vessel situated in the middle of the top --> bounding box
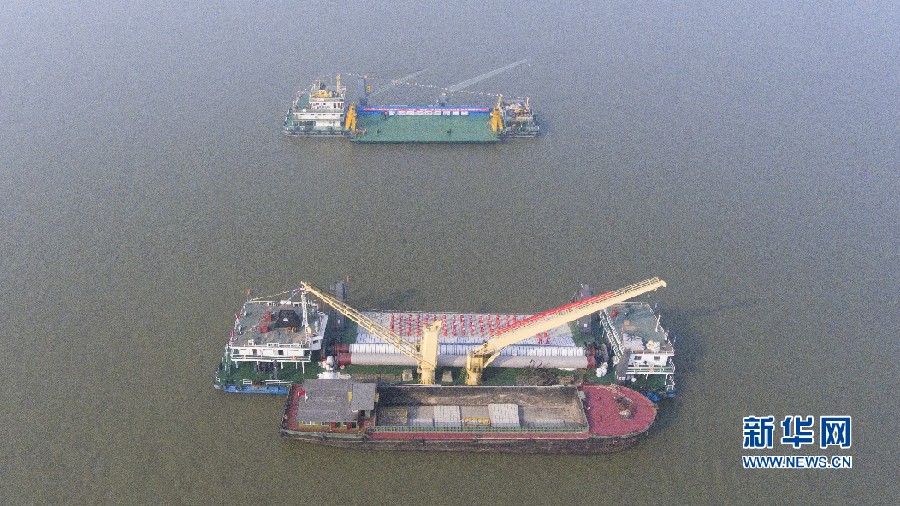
[284,74,539,144]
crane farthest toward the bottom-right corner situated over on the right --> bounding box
[461,276,665,383]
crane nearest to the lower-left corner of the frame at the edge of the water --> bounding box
[302,279,445,383]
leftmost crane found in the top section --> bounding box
[359,66,432,106]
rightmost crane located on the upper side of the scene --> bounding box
[437,58,532,107]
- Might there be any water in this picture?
Yes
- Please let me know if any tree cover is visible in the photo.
No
